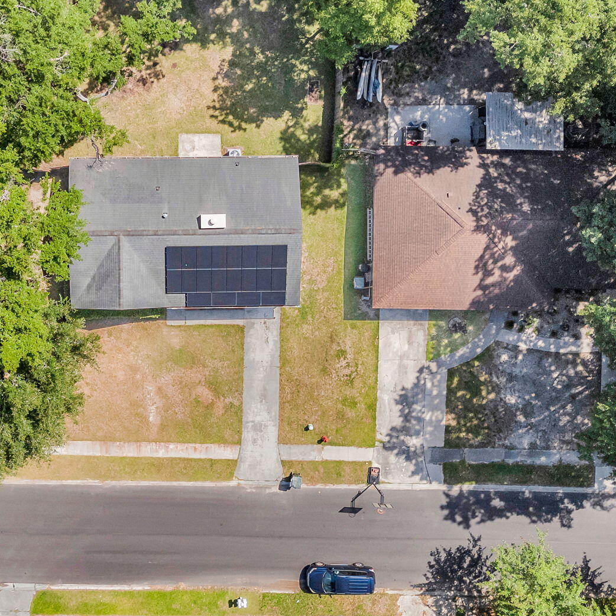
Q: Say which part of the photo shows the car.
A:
bottom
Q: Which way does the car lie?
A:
from side to side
